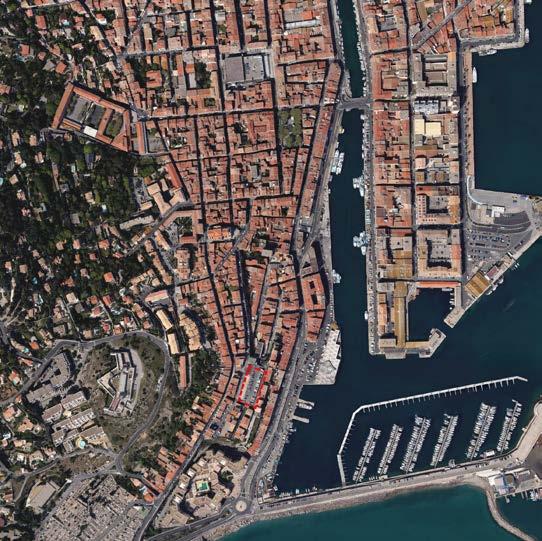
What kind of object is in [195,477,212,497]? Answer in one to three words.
swimming pool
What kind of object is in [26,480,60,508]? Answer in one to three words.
building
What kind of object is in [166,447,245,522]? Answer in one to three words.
house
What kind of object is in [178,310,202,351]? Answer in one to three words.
building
